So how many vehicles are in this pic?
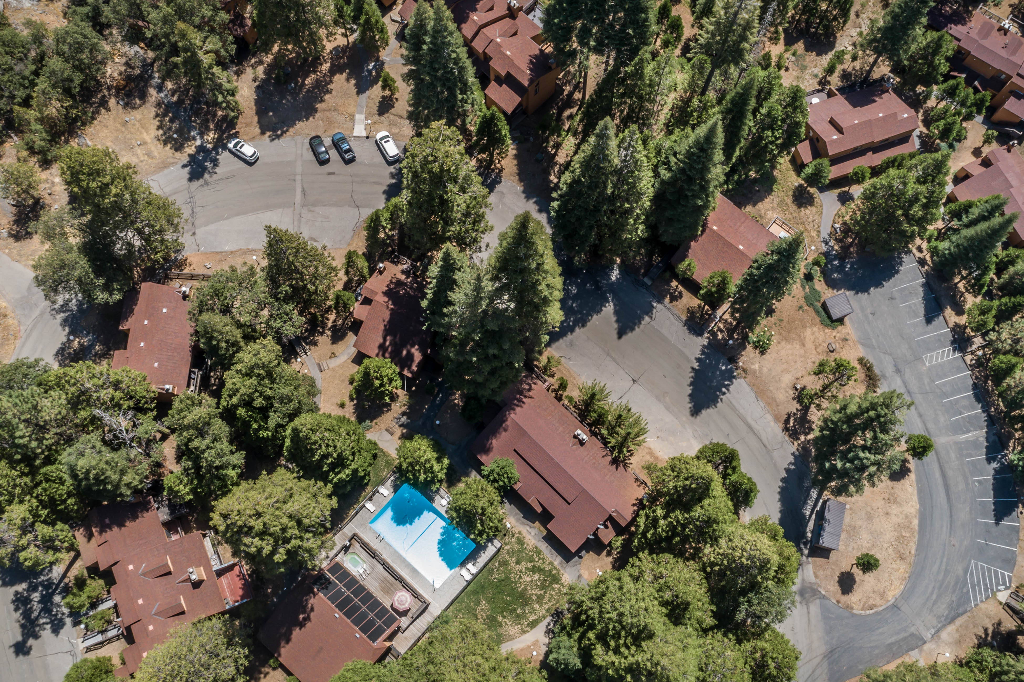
4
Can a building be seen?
Yes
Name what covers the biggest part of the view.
trees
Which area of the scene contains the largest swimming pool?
bottom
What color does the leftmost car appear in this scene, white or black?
white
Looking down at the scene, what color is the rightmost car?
white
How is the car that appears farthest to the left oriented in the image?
on a diagonal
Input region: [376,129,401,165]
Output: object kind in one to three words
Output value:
car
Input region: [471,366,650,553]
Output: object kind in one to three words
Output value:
building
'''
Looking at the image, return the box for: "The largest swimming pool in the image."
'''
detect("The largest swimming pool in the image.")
[353,468,501,604]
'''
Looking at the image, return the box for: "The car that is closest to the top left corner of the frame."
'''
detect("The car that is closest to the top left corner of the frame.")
[227,138,260,165]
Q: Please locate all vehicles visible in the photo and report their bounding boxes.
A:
[227,138,260,165]
[332,130,357,165]
[309,133,332,166]
[376,129,401,165]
